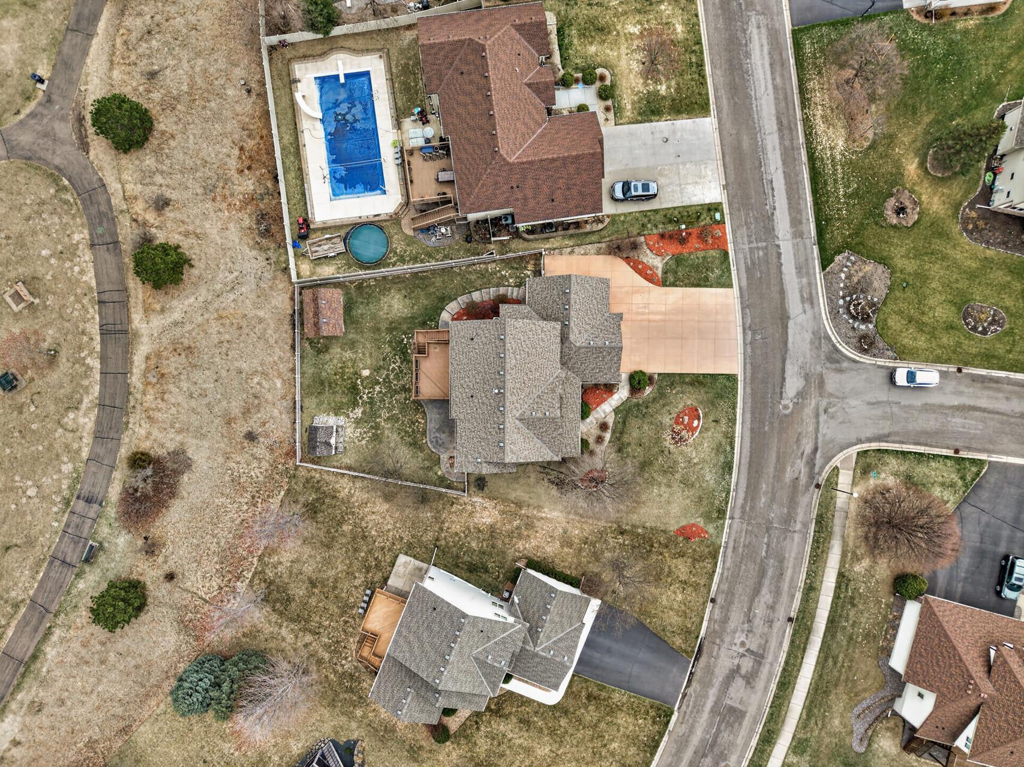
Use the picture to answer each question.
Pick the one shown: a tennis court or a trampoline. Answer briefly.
trampoline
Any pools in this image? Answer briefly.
Yes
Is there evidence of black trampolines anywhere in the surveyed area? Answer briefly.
No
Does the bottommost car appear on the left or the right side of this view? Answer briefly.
right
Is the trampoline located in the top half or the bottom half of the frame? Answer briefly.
top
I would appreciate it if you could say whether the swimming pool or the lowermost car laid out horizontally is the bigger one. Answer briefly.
the swimming pool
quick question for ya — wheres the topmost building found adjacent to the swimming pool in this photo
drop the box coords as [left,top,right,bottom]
[417,0,603,227]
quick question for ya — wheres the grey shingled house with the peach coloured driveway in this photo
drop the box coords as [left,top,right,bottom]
[449,274,623,474]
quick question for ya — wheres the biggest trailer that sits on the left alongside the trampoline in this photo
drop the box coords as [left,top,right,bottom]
[302,233,345,259]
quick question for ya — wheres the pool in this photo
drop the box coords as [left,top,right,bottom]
[305,66,386,201]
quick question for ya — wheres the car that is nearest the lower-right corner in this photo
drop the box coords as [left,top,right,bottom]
[997,551,1024,601]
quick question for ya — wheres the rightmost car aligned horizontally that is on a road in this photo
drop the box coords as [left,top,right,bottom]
[887,365,940,389]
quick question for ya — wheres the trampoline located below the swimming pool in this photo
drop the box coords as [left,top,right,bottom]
[345,221,390,266]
